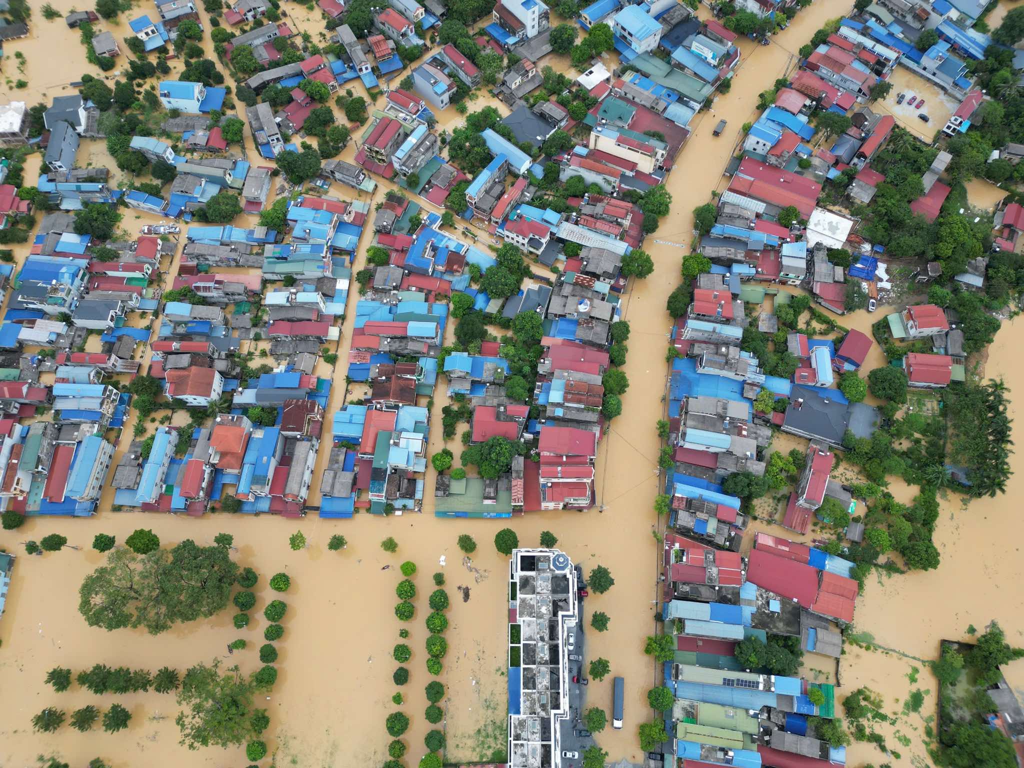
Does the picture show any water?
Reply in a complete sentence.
Yes, water can be seen from above here.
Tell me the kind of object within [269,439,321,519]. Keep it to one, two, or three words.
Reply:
house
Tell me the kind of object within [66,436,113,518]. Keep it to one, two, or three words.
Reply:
house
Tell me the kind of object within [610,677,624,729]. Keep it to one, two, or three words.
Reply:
vehicle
